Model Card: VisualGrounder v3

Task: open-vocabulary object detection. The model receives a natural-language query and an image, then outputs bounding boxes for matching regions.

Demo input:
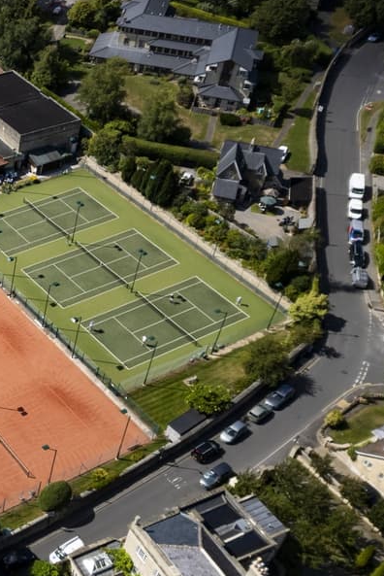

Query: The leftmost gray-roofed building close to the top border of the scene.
[90,0,260,113]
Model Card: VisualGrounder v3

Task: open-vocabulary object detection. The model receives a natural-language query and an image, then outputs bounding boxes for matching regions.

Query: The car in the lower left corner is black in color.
[0,549,40,570]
